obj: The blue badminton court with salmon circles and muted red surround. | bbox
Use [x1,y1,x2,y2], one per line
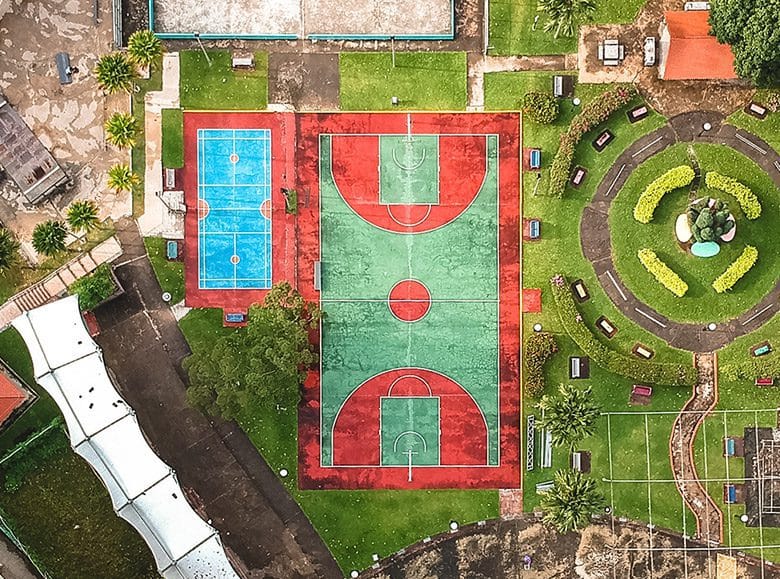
[184,111,298,327]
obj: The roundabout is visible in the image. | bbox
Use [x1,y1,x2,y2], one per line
[582,112,780,351]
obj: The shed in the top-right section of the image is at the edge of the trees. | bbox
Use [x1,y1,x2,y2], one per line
[657,11,742,82]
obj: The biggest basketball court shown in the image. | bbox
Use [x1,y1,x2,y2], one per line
[184,109,523,489]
